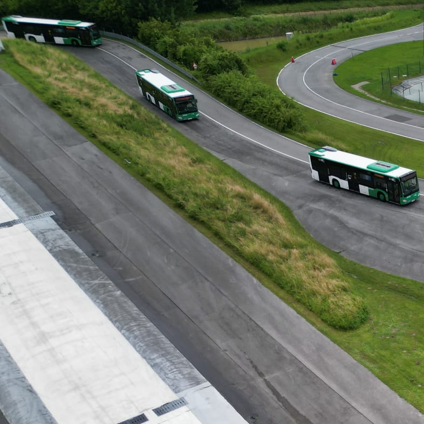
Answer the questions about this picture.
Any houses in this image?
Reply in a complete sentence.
No, there appears to be no house in this shot.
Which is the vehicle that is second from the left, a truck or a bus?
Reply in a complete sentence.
It looks like the vehicle that is second from the left is a bus.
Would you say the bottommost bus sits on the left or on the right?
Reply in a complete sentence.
You can find the bottommost bus on the right side of the picture.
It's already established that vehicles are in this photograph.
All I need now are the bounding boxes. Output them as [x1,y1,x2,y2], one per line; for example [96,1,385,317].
[138,70,200,120]
[5,21,100,47]
[308,142,424,206]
